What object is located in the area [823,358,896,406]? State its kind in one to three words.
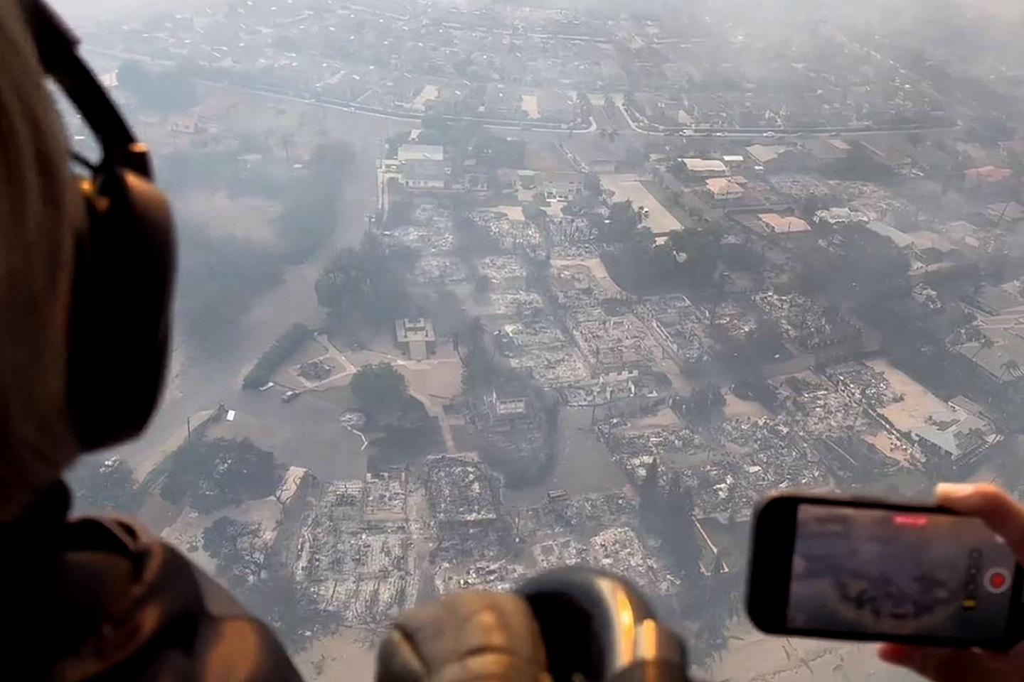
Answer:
house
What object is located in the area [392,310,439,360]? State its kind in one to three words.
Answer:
building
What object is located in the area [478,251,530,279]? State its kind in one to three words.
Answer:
house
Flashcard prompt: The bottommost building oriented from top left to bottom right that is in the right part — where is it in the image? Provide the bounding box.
[590,524,676,595]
